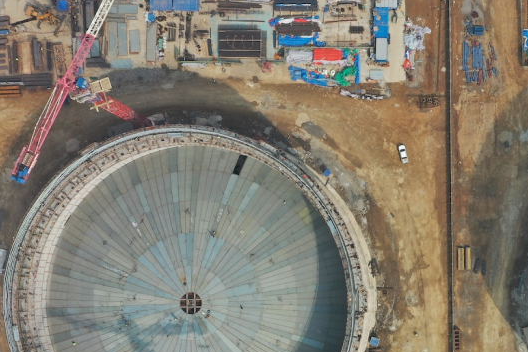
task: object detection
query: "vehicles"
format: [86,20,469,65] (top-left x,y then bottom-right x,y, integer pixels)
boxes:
[398,144,408,163]
[369,252,381,276]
